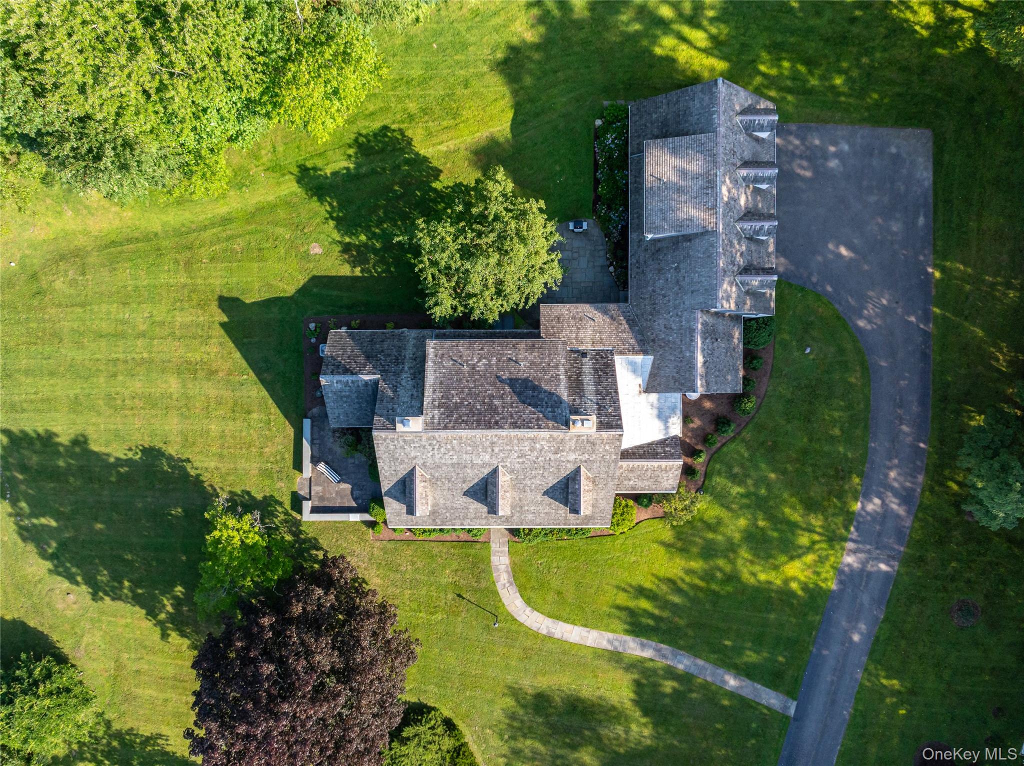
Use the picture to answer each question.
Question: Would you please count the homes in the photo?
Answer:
1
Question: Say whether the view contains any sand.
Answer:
No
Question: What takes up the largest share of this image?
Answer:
grass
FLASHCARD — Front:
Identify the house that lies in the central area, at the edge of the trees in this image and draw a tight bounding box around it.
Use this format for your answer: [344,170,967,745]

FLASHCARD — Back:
[320,78,778,530]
